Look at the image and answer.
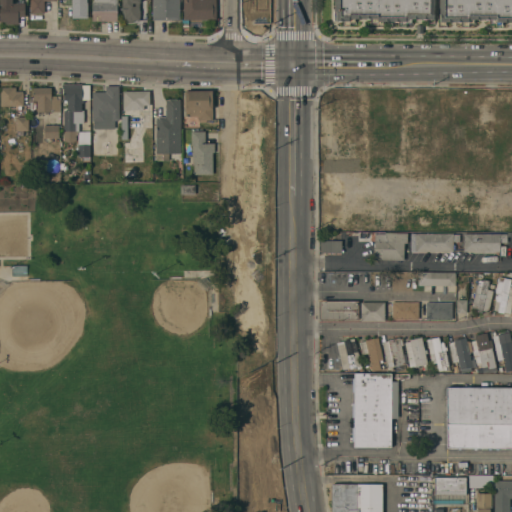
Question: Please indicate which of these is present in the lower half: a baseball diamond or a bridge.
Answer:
baseball diamond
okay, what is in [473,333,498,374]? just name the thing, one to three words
house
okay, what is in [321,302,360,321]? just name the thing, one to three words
building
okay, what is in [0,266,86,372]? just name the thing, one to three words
baseball field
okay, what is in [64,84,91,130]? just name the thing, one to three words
house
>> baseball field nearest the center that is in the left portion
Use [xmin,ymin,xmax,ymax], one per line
[152,271,218,334]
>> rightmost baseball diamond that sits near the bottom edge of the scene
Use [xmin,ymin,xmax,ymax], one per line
[131,463,213,512]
